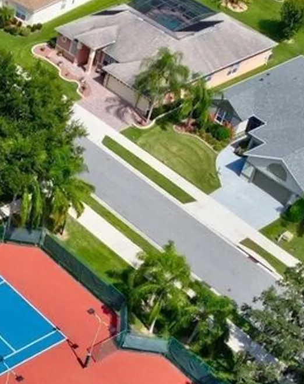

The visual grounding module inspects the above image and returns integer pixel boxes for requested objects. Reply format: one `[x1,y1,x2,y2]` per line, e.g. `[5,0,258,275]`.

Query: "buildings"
[205,55,304,206]
[0,0,90,24]
[56,2,278,114]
